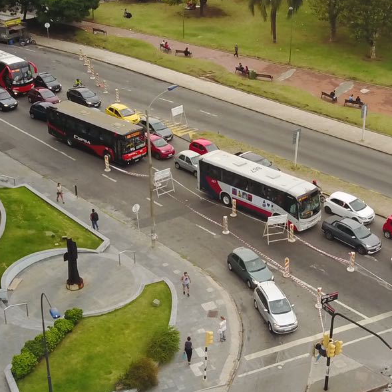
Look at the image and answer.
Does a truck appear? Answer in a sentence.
Yes, a truck can be made out from above.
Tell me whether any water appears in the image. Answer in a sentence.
No, there's no water in this view.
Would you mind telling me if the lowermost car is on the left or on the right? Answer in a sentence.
You can find the lowermost car on the right side of the picture.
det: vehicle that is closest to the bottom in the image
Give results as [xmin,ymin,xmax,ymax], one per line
[247,278,305,338]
